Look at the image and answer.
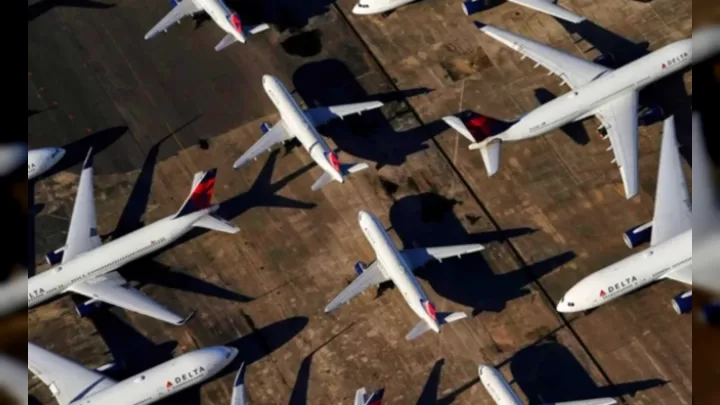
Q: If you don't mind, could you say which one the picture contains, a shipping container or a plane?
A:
plane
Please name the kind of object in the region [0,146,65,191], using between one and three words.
airplane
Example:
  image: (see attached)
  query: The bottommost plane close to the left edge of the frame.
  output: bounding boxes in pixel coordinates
[0,322,238,405]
